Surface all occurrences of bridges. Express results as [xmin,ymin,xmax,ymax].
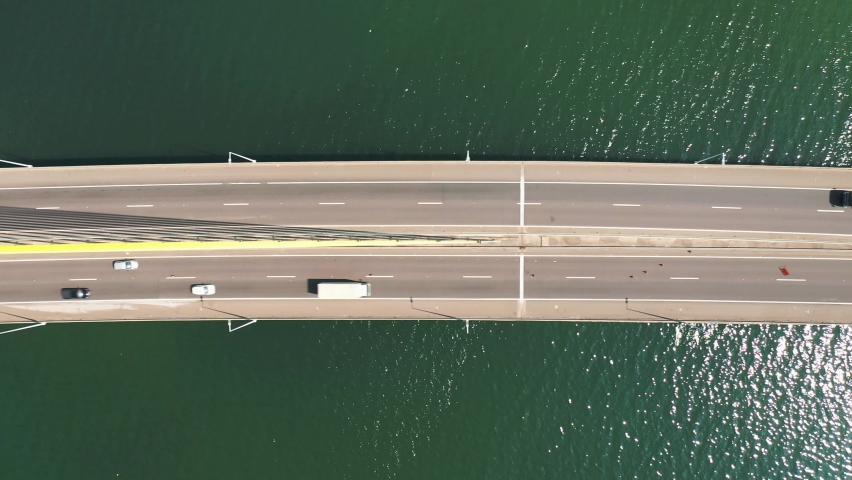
[0,161,852,324]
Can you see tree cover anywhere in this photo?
No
